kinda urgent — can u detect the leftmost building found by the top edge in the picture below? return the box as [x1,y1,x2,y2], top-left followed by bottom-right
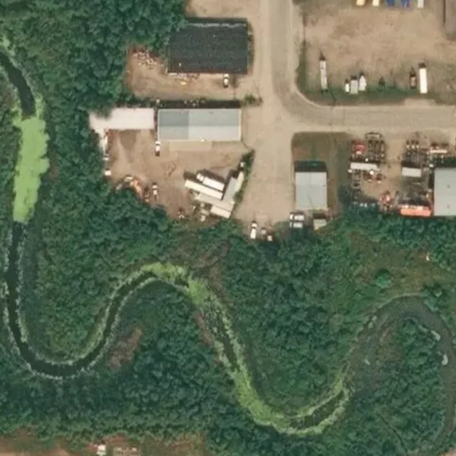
[167,21,248,73]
